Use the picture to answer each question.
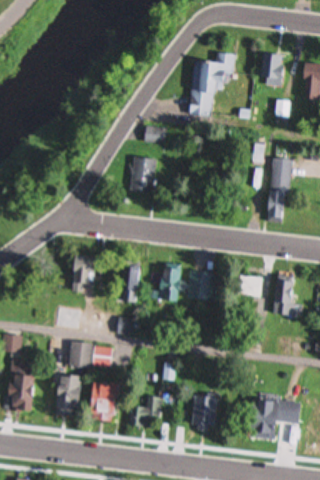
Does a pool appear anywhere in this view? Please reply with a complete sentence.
No, the picture doesn't show any pool.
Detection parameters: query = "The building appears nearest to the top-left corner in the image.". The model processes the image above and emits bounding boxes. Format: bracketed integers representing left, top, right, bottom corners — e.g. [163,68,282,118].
[144,125,166,142]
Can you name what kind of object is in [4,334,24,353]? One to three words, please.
building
